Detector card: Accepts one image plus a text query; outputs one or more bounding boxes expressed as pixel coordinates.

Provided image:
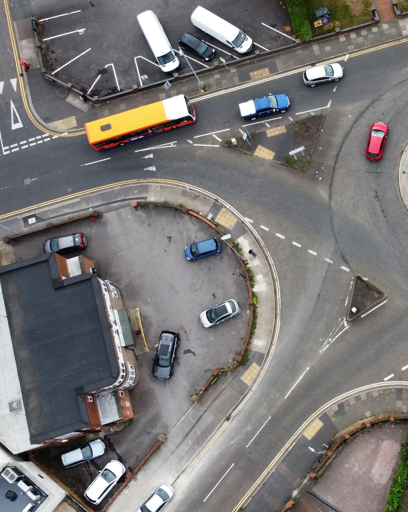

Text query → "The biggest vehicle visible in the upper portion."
[85,93,201,152]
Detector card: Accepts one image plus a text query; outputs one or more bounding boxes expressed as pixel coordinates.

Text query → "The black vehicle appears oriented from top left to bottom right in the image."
[178,29,216,64]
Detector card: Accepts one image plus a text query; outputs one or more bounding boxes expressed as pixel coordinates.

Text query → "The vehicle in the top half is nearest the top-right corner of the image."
[303,61,344,84]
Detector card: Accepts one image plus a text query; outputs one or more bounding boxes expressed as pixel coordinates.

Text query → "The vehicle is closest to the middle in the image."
[183,238,225,263]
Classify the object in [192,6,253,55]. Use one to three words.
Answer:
van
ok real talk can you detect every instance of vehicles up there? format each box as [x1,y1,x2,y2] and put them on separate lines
[192,6,253,55]
[200,302,242,329]
[57,437,110,472]
[83,460,126,505]
[136,482,176,512]
[151,330,181,380]
[183,238,225,263]
[137,10,179,74]
[85,93,201,152]
[366,122,388,162]
[44,234,90,254]
[303,61,344,84]
[178,29,216,64]
[239,94,291,122]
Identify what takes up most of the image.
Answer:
paved ground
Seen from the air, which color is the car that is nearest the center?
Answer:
blue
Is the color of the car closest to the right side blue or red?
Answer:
red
